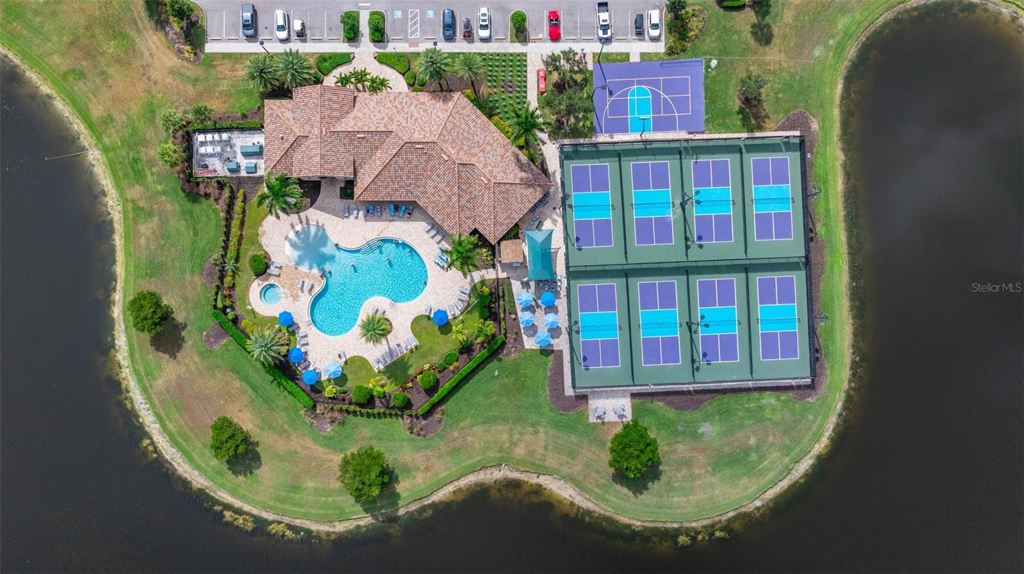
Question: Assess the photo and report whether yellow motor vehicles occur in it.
No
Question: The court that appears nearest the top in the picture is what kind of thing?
basketball court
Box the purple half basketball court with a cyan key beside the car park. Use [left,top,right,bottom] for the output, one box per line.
[594,58,705,135]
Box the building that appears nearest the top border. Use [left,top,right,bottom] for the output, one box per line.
[264,84,554,246]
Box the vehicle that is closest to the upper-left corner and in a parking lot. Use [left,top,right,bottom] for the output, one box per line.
[241,5,257,38]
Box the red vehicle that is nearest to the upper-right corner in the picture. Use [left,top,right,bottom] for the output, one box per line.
[547,11,561,40]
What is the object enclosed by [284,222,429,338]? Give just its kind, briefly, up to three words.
swimming pool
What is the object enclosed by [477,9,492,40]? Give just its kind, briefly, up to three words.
car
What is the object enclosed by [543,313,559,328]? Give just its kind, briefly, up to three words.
umbrella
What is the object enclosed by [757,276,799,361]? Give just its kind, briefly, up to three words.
sports court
